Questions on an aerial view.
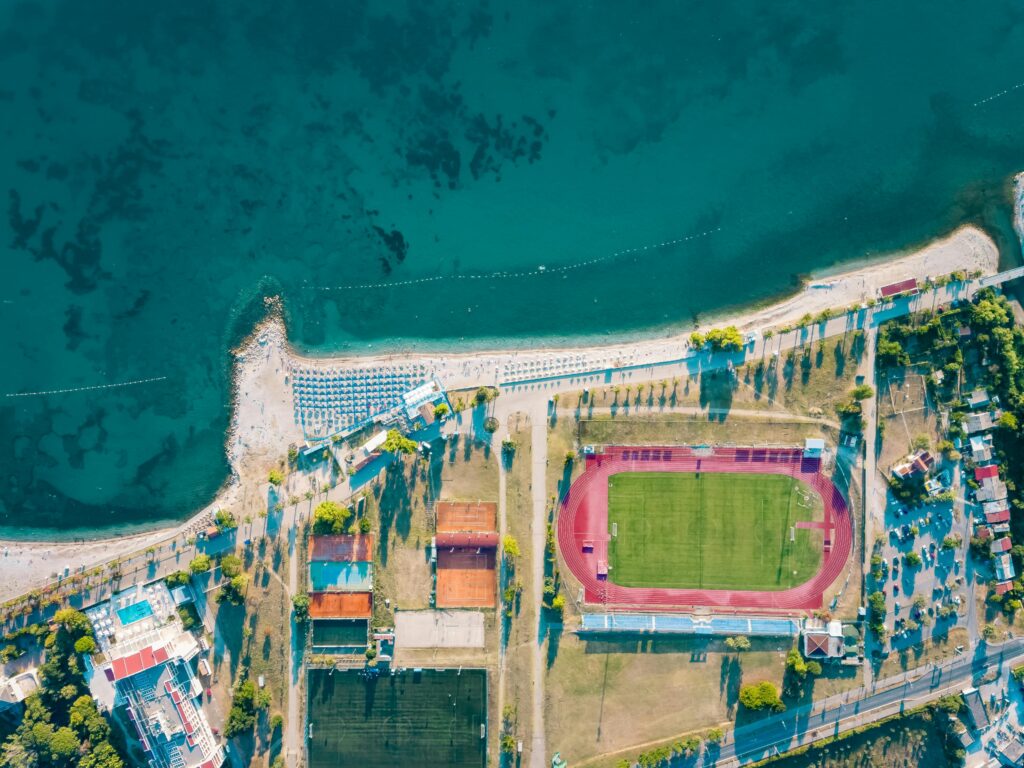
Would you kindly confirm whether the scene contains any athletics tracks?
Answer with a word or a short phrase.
Yes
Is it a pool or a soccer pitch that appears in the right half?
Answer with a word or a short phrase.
soccer pitch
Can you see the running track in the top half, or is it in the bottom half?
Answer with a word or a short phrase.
bottom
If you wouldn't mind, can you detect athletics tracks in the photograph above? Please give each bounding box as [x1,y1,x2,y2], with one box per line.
[558,447,853,611]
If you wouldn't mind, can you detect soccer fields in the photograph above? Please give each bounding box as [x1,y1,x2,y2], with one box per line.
[609,473,836,587]
[306,669,486,768]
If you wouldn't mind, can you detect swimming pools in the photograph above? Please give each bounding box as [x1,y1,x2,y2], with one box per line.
[117,600,152,624]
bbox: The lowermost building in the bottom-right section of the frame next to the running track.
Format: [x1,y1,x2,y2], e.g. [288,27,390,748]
[803,617,845,657]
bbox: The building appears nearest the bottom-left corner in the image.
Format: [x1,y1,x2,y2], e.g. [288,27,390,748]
[0,664,41,704]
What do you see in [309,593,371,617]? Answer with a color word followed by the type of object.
orange tennis court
